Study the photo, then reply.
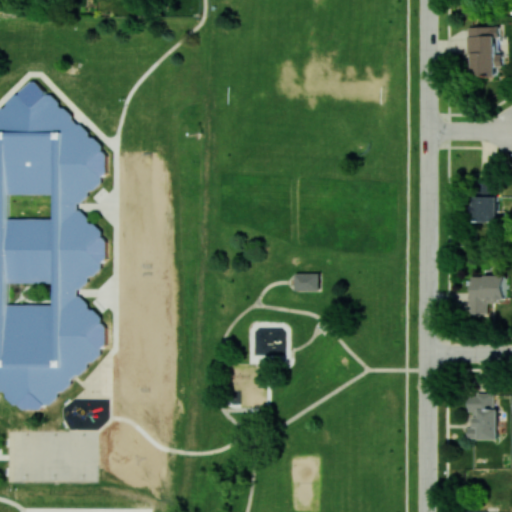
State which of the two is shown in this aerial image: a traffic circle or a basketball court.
basketball court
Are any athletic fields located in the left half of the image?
Yes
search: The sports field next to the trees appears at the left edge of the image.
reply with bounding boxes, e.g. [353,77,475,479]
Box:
[18,146,185,506]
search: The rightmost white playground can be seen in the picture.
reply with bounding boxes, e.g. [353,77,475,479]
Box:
[250,321,295,368]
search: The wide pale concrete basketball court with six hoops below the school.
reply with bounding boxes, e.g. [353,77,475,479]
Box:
[8,431,100,482]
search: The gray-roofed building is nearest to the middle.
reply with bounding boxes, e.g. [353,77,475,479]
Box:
[291,274,324,292]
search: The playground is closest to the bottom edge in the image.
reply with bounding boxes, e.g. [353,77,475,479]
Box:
[62,399,110,430]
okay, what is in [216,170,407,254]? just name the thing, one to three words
sports field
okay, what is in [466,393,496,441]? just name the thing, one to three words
house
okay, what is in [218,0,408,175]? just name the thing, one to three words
soccer field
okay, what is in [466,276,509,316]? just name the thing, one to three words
house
